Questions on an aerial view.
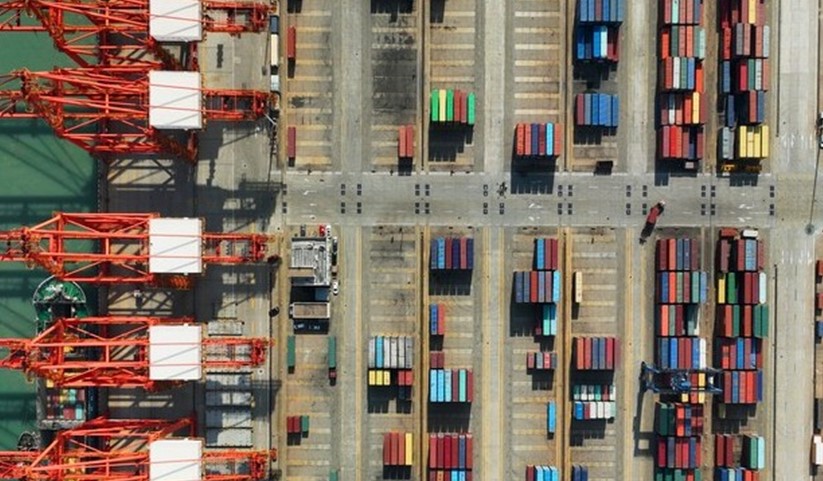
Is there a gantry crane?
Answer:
Yes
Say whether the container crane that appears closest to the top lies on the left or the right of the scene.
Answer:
left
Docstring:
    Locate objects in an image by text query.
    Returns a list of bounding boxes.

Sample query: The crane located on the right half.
[644,358,728,395]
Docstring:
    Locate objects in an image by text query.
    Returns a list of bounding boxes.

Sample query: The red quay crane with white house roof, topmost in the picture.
[0,0,275,76]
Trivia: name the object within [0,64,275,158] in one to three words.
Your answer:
container crane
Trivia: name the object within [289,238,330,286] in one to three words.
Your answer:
building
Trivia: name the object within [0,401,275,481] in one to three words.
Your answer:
container crane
